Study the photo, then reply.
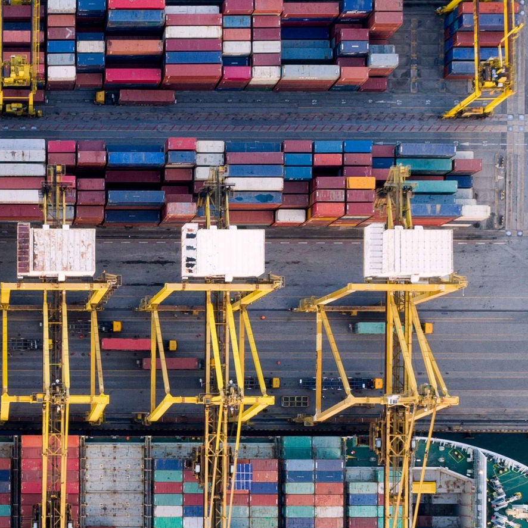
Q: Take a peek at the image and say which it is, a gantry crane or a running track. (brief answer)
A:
gantry crane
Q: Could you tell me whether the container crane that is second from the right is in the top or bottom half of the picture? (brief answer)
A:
bottom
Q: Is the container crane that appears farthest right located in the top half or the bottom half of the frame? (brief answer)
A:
top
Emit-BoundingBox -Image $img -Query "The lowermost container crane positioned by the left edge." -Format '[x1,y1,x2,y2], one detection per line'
[0,161,120,528]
